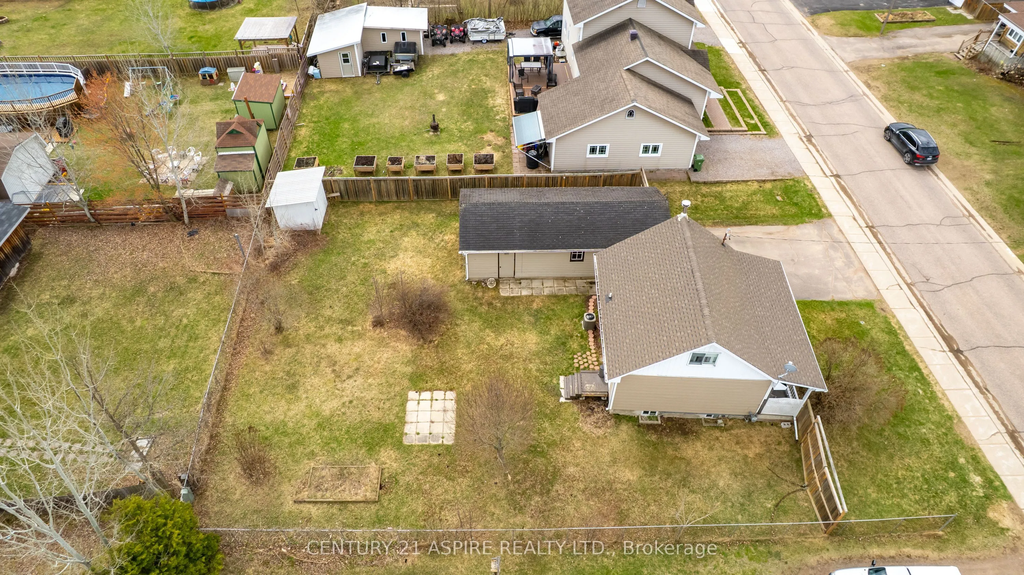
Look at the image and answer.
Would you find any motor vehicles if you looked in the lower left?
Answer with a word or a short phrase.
No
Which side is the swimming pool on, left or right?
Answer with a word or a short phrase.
left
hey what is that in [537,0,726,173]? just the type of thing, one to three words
house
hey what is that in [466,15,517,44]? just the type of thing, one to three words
vehicle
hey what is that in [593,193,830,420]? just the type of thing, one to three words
house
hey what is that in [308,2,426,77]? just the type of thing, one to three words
building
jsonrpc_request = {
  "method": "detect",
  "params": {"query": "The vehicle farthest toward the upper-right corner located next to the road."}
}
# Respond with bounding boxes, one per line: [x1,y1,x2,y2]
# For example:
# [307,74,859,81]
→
[885,126,940,167]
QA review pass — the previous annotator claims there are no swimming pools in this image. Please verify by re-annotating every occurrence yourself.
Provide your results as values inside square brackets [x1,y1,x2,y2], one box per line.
[0,59,88,110]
